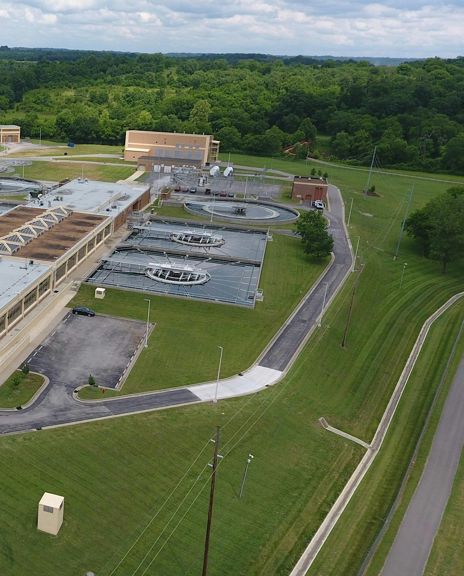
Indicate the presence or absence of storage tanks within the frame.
Yes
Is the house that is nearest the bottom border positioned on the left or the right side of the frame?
left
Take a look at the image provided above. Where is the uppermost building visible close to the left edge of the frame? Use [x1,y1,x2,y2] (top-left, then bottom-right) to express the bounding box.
[0,125,21,143]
